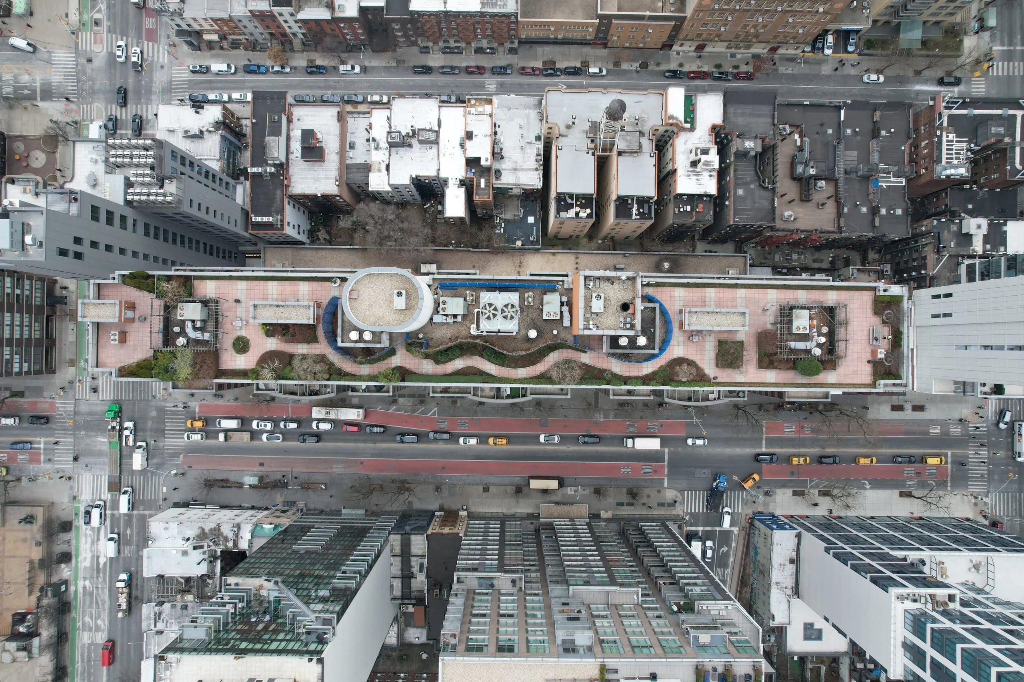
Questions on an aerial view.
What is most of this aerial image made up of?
buildings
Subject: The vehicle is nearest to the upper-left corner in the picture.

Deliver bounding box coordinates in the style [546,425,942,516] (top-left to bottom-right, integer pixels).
[9,37,33,52]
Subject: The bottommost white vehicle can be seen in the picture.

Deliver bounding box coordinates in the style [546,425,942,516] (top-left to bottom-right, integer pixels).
[117,575,131,619]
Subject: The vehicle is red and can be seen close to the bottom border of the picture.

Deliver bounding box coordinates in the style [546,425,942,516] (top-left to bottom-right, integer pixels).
[101,640,115,669]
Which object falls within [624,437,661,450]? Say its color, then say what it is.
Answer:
white vehicle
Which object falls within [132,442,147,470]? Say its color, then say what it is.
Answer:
white vehicle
